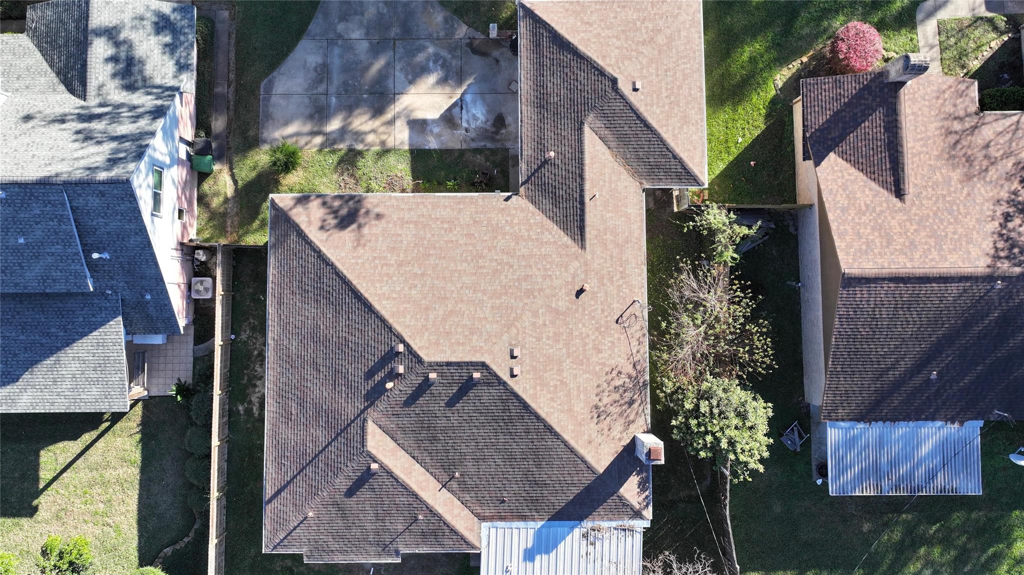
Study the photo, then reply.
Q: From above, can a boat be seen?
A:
No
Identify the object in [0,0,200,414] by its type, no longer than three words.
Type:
house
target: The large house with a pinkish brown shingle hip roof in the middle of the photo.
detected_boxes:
[262,0,708,565]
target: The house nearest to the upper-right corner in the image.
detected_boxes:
[794,58,1024,421]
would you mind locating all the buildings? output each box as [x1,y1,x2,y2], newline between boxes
[0,0,200,414]
[262,0,708,565]
[794,58,1024,421]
